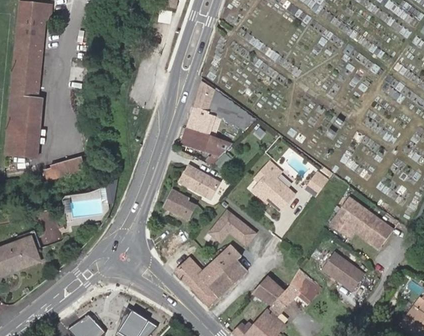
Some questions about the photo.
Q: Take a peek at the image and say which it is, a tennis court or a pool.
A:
pool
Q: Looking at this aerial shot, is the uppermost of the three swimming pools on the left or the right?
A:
right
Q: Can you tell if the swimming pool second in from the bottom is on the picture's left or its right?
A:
left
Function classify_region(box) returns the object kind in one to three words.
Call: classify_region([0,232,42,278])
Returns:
house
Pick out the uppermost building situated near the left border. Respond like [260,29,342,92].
[5,0,53,158]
